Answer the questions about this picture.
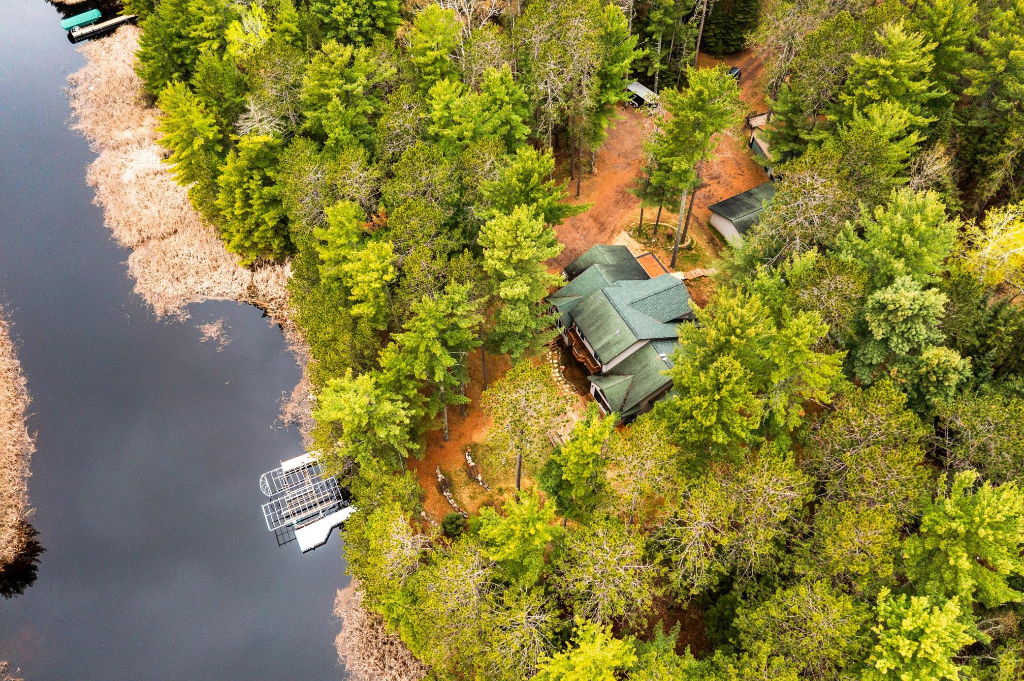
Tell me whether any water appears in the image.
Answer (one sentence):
Yes, water can be seen from above here.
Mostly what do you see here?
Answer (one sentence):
The bulk of the photo consists of trees.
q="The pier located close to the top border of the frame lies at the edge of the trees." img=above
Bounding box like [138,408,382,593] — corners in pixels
[72,13,139,40]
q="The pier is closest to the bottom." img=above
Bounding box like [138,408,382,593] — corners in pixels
[295,507,366,552]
